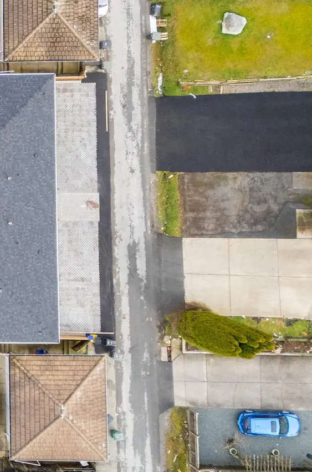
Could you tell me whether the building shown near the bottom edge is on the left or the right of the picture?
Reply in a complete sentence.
You can find the building shown near the bottom edge on the left side of the picture.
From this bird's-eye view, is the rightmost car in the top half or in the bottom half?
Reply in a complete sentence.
The rightmost car is in the bottom half of the image.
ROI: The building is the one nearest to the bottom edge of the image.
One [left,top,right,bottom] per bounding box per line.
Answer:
[1,352,109,463]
